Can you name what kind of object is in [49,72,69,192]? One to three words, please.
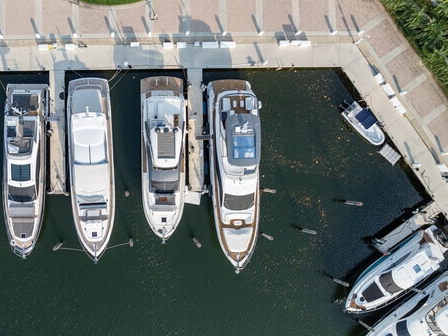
pier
